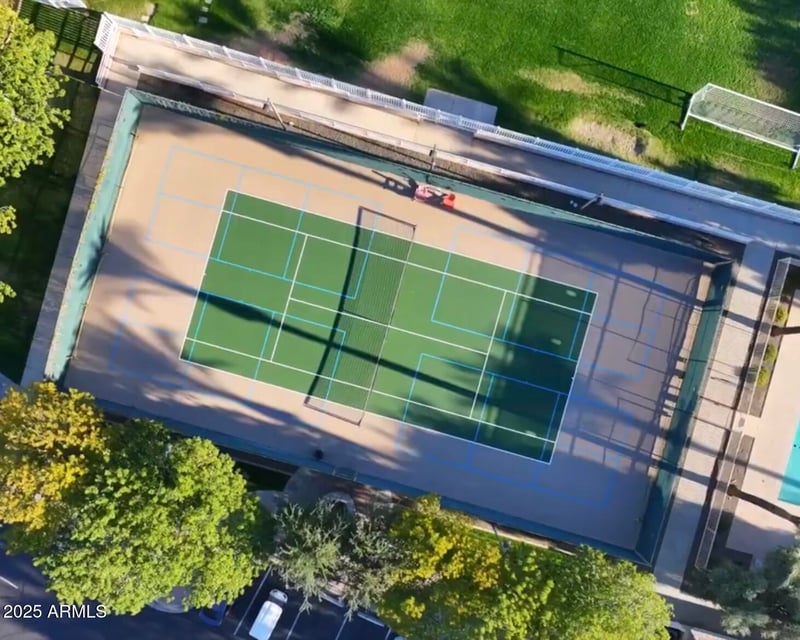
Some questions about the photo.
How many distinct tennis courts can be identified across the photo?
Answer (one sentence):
The picture shows 1 tennis court.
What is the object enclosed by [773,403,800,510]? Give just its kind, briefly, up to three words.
swimming pool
